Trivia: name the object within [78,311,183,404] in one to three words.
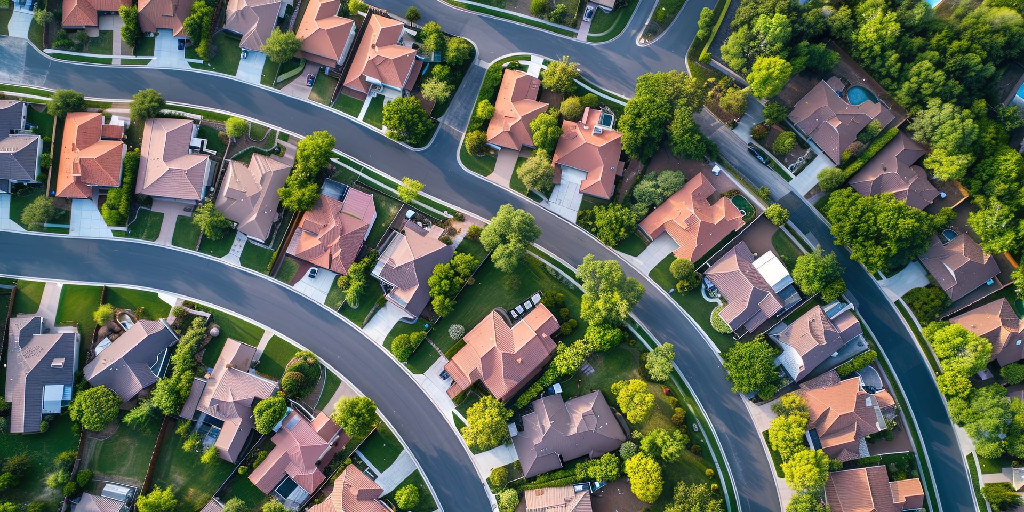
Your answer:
house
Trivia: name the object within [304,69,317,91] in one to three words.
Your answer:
vehicle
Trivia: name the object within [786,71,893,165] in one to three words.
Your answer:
house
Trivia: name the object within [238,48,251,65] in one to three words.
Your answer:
vehicle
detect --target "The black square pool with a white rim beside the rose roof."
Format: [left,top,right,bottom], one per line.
[274,476,300,500]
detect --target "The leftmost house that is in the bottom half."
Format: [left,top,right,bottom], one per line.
[7,316,81,435]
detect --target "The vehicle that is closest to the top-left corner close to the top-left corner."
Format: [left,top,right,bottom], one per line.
[176,38,188,55]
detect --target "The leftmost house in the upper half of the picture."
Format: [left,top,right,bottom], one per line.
[0,98,46,194]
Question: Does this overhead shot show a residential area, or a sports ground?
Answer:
residential area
